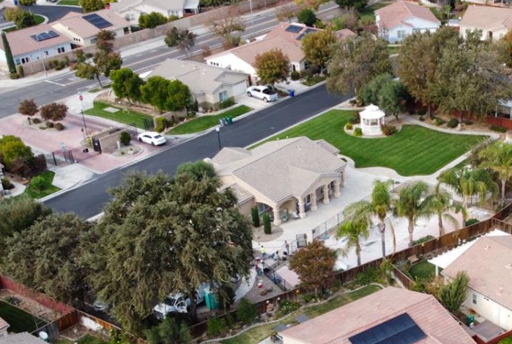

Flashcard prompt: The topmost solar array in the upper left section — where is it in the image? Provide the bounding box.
[82,13,114,27]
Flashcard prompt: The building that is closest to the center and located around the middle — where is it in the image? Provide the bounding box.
[209,134,349,227]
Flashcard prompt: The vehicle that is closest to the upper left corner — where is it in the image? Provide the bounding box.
[137,132,165,145]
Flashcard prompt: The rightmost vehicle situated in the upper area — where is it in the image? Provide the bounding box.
[248,86,274,100]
